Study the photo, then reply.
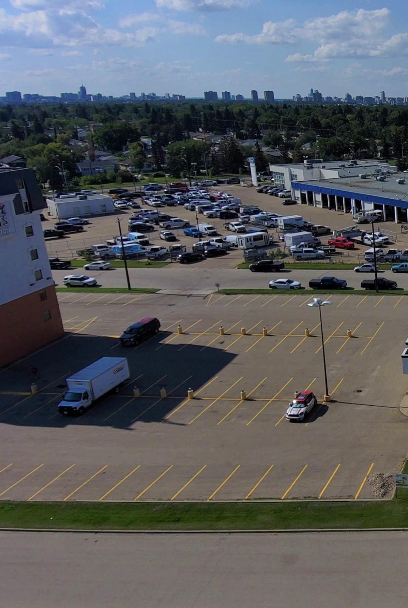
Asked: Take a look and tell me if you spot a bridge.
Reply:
No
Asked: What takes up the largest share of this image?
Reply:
paved ground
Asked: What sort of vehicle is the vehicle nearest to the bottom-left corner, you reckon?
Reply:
truck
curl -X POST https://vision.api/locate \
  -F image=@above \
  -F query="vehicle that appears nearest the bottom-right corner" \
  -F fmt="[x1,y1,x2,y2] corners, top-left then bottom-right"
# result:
[281,394,320,423]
